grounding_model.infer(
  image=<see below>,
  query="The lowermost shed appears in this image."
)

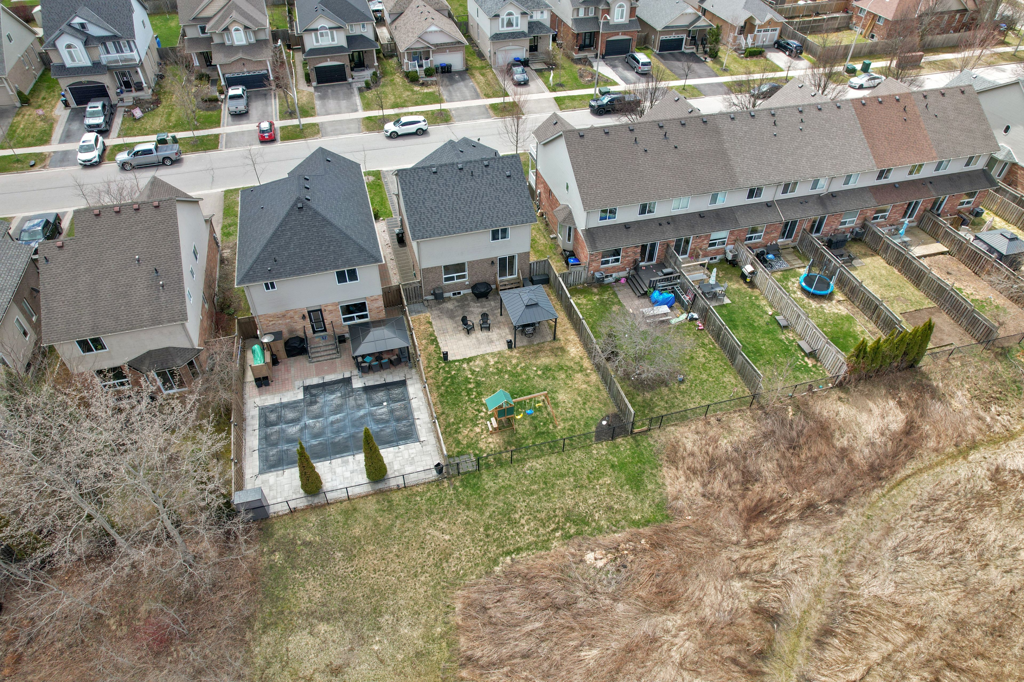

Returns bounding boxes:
[232,485,268,523]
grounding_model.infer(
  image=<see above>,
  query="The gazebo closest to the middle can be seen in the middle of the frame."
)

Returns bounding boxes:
[498,283,560,348]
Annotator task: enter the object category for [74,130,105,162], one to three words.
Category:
car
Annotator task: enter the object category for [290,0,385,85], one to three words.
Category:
house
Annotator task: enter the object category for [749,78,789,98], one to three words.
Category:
car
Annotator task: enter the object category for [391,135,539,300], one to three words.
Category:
house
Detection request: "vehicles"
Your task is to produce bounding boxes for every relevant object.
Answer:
[590,89,647,115]
[224,81,248,110]
[113,139,184,170]
[503,61,528,82]
[619,47,653,70]
[844,69,887,88]
[12,210,59,261]
[254,117,277,139]
[381,112,430,138]
[749,78,789,98]
[773,35,808,55]
[80,97,113,131]
[74,130,105,162]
